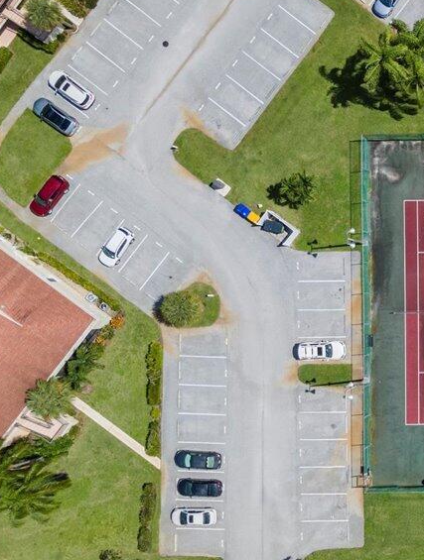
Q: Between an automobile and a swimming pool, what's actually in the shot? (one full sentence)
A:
There is an automobile in the scene.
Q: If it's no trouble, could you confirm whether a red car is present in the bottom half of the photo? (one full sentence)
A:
No, no red car can be made out in the bottom half of the photo.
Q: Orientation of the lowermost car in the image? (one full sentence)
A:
Seen from above, the lowermost car lies horizontally.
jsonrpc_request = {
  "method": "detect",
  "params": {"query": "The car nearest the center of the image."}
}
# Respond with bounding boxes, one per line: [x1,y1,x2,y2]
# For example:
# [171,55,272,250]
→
[100,227,136,270]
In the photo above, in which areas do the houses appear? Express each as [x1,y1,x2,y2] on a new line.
[0,235,113,448]
[0,0,29,57]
